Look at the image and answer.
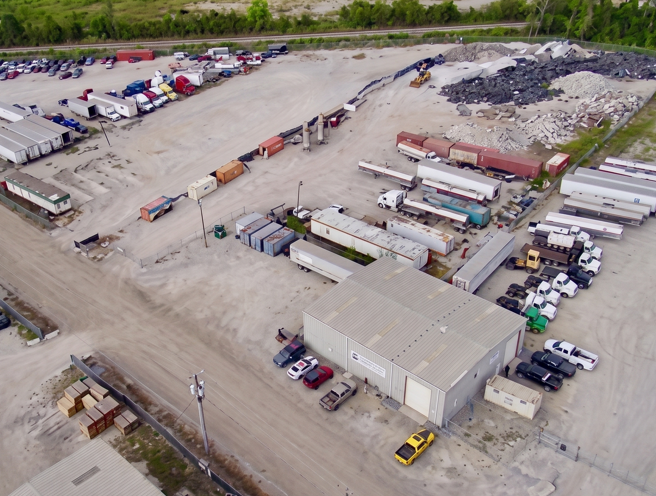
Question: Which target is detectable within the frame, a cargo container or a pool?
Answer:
cargo container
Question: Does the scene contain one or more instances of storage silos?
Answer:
Yes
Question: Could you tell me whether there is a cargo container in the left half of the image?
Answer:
Yes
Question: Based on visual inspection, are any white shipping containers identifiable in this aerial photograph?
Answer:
Yes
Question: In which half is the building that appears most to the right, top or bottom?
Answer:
bottom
